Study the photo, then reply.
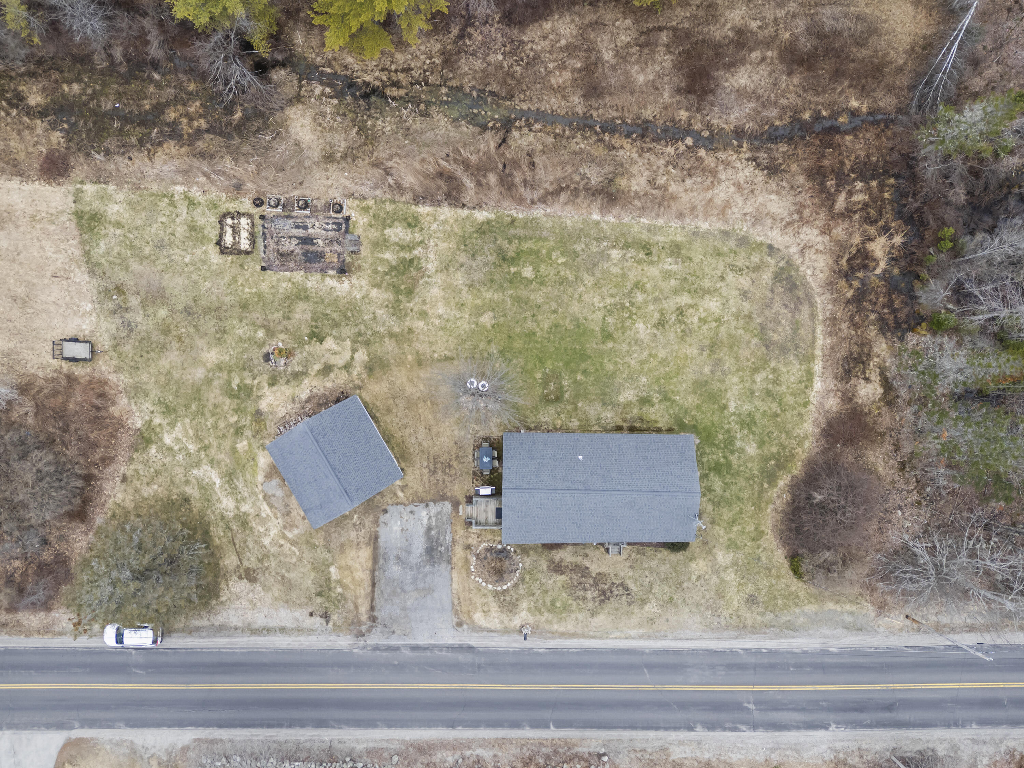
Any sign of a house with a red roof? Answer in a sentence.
No, there appears to be no house with a red roof in this shot.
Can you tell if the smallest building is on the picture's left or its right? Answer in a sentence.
The smallest building is on the left side of the image.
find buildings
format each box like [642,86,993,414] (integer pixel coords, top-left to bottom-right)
[267,394,406,527]
[502,430,701,543]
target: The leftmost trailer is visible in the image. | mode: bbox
[47,337,104,363]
